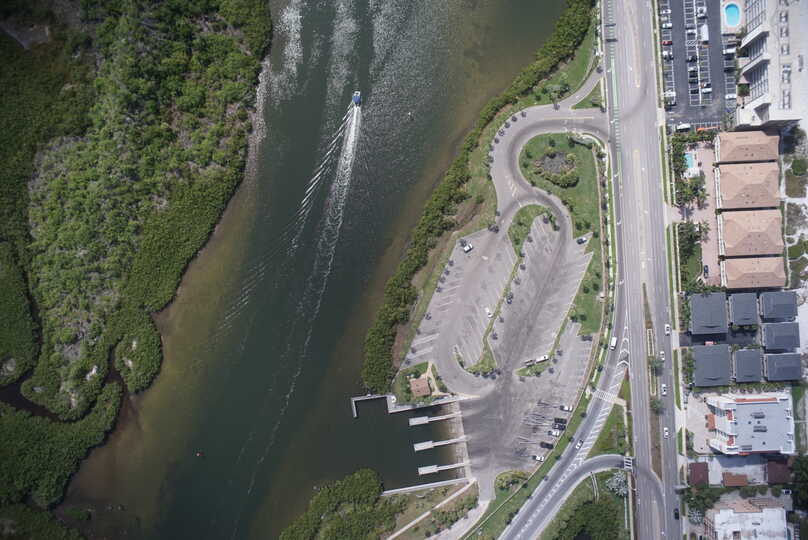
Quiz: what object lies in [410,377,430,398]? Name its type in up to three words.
shed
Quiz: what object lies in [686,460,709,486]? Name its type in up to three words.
house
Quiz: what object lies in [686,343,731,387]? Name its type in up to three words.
house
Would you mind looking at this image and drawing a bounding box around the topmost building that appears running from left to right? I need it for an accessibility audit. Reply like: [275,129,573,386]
[706,131,780,163]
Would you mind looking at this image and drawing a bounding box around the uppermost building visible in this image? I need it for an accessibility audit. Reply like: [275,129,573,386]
[735,0,802,131]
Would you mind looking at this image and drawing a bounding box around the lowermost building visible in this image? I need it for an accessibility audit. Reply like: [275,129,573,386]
[701,499,787,540]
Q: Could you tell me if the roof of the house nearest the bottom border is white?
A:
Yes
